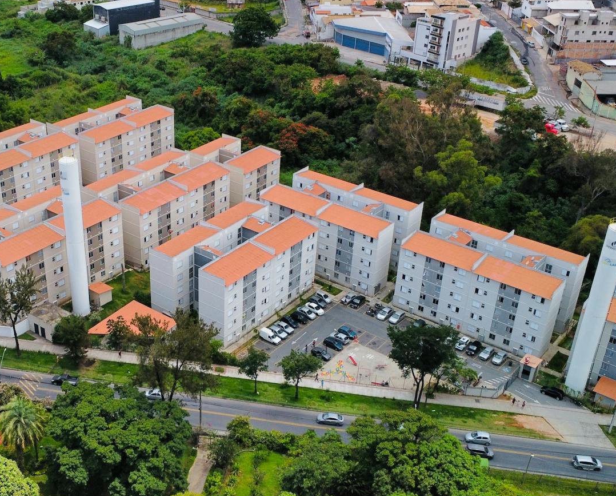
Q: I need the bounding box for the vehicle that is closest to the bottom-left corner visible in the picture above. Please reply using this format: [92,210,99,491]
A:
[51,373,80,388]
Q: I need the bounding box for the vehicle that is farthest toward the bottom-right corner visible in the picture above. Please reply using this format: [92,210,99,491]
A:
[573,455,601,471]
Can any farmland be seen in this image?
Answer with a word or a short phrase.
No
